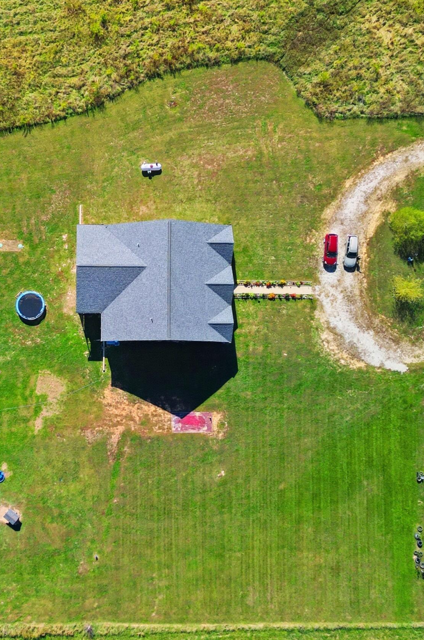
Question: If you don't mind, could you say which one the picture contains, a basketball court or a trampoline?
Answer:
trampoline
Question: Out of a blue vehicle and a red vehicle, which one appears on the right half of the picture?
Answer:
red vehicle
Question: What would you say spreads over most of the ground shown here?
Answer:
grass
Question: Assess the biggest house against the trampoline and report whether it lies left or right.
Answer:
to the right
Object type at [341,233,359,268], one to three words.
car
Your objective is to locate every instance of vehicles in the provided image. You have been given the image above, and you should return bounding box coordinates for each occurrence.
[323,233,341,264]
[341,233,359,268]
